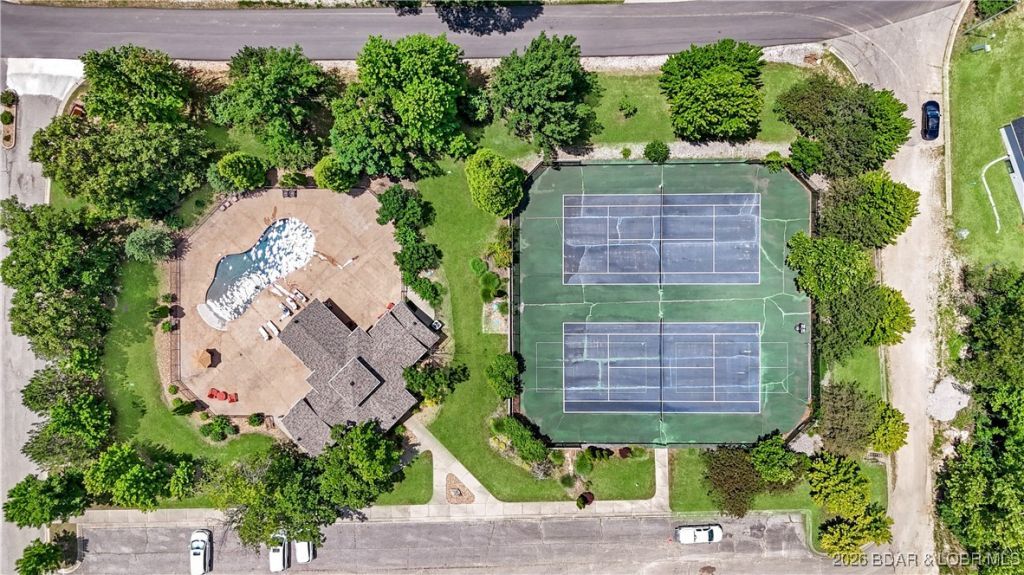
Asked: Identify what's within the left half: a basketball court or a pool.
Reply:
pool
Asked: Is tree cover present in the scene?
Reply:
Yes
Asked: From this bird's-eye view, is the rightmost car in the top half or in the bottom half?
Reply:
top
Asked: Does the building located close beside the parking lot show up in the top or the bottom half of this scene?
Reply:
bottom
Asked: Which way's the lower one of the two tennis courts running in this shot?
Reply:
horizontally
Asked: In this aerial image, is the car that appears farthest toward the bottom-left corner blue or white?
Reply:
white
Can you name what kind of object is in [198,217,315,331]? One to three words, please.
swimming pool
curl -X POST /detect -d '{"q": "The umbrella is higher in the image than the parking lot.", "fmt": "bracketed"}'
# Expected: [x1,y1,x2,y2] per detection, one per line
[199,348,214,368]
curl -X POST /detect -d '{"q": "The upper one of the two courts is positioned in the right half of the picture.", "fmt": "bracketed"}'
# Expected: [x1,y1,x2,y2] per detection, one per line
[563,184,761,293]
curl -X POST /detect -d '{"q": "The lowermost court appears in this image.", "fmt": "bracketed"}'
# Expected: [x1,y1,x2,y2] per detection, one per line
[534,314,787,423]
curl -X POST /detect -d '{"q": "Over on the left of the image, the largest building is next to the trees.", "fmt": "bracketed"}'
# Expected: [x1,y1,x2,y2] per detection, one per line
[278,298,440,456]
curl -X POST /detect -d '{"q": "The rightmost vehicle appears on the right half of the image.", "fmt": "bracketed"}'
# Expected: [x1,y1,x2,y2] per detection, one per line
[918,102,942,141]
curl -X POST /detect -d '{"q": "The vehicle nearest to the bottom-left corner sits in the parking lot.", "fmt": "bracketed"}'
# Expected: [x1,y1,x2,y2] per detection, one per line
[189,529,213,575]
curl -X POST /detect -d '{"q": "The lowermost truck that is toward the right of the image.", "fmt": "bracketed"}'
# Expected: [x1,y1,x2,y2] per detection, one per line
[675,523,722,545]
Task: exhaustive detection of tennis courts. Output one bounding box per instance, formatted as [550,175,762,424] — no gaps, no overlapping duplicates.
[534,314,787,423]
[563,184,761,293]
